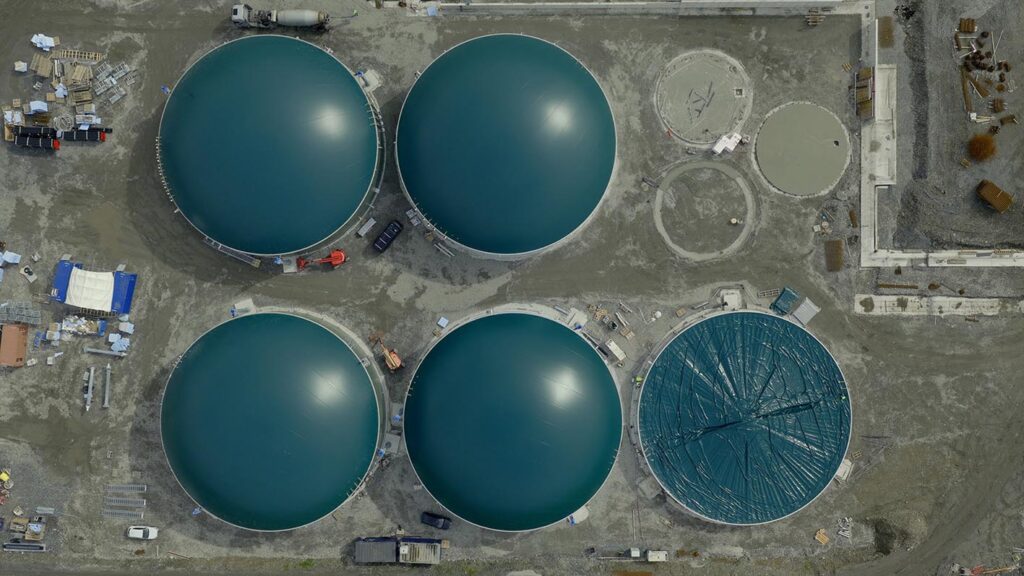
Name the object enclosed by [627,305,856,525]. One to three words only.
storage tank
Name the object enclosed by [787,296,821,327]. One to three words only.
shed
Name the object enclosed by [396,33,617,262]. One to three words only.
storage tank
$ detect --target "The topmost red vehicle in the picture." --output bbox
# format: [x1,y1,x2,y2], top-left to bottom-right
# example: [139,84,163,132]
[301,251,348,267]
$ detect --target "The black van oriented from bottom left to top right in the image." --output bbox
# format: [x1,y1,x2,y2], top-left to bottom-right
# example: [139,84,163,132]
[373,218,406,252]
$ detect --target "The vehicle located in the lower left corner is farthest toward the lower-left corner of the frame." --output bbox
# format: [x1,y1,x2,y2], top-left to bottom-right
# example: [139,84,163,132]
[128,524,159,541]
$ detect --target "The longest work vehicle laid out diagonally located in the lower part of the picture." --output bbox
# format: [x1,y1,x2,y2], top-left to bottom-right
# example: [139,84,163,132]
[368,325,410,374]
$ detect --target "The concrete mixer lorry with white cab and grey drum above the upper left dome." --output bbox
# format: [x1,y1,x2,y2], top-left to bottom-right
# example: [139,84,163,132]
[233,5,337,32]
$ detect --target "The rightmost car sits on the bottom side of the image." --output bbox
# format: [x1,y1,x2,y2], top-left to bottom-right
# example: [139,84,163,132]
[420,511,452,530]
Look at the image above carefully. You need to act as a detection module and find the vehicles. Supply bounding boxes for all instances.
[301,251,348,267]
[373,218,406,252]
[368,325,410,374]
[420,511,452,530]
[233,5,337,32]
[128,524,159,541]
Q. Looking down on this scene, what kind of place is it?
industrial area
